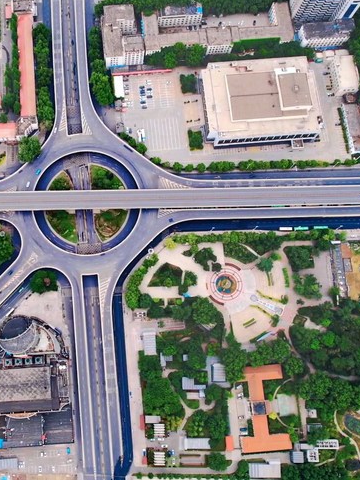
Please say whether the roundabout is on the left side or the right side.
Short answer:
left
